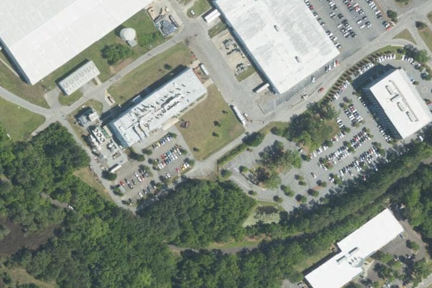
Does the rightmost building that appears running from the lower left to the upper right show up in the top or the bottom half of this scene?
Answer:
bottom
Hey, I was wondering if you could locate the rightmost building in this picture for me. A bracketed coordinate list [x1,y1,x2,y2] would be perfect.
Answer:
[368,68,432,139]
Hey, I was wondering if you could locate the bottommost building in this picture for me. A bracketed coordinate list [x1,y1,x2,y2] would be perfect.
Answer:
[306,208,403,288]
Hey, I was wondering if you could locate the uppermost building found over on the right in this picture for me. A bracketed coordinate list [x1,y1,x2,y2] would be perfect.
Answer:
[213,0,339,93]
